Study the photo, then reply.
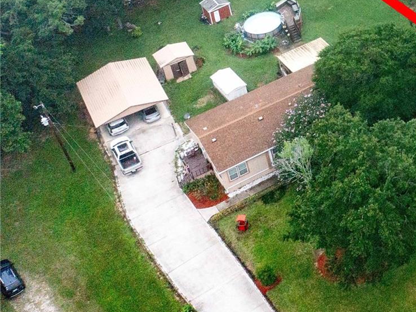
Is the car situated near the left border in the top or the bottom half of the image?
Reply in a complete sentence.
You can find the car situated near the left border in the bottom half.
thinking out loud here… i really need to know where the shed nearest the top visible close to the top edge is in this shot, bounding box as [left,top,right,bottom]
[198,0,234,27]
